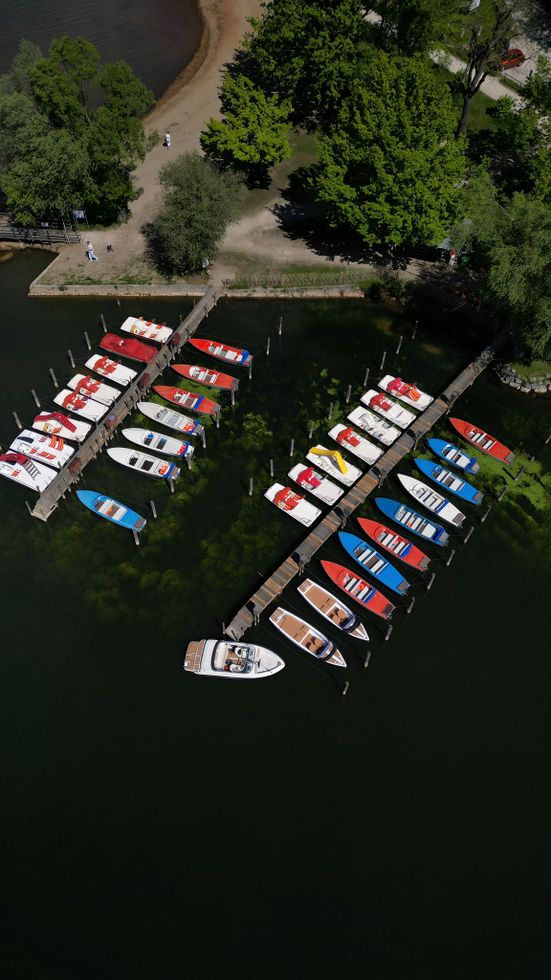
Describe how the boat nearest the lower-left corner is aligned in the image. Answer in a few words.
from left to right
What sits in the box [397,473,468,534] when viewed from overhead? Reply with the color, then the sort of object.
white boat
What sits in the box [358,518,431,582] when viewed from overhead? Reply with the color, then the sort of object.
red boat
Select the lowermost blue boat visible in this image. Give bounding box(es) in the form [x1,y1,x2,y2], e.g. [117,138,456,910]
[339,530,411,606]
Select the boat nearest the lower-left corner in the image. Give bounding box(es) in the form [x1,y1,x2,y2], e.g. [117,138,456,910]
[183,637,285,680]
